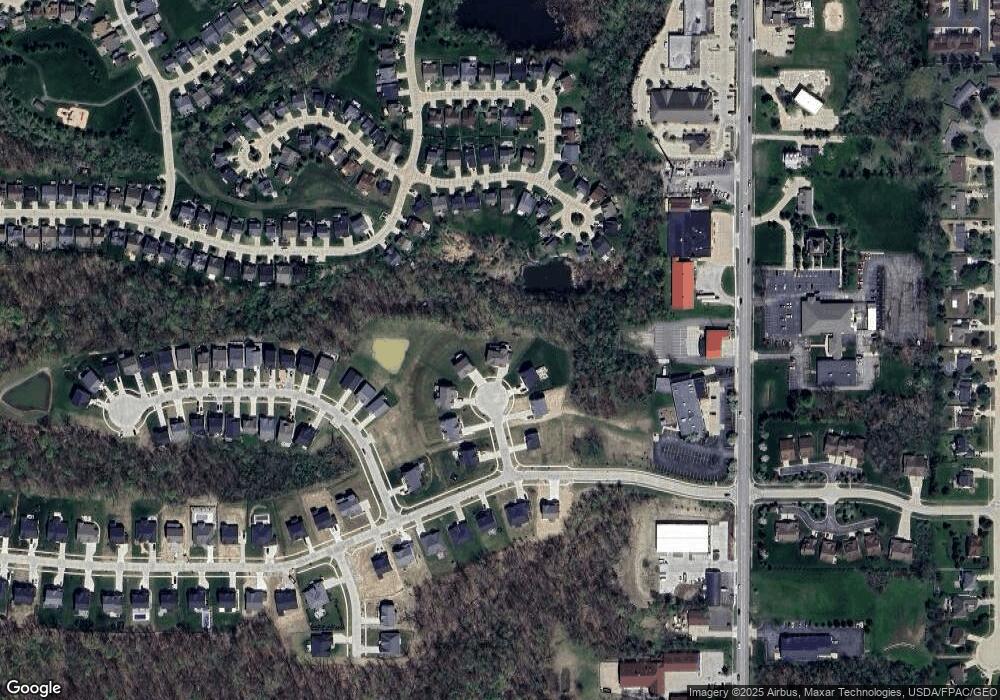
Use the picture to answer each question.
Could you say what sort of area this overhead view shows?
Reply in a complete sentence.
This looks like a residential area.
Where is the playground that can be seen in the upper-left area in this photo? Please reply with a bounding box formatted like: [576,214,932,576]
[57,106,89,128]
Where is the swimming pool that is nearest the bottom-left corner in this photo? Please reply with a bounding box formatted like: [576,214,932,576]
[134,608,148,621]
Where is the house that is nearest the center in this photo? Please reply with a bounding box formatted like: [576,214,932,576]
[486,343,510,367]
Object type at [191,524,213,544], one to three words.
house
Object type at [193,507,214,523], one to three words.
swimming pool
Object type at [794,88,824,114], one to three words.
building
